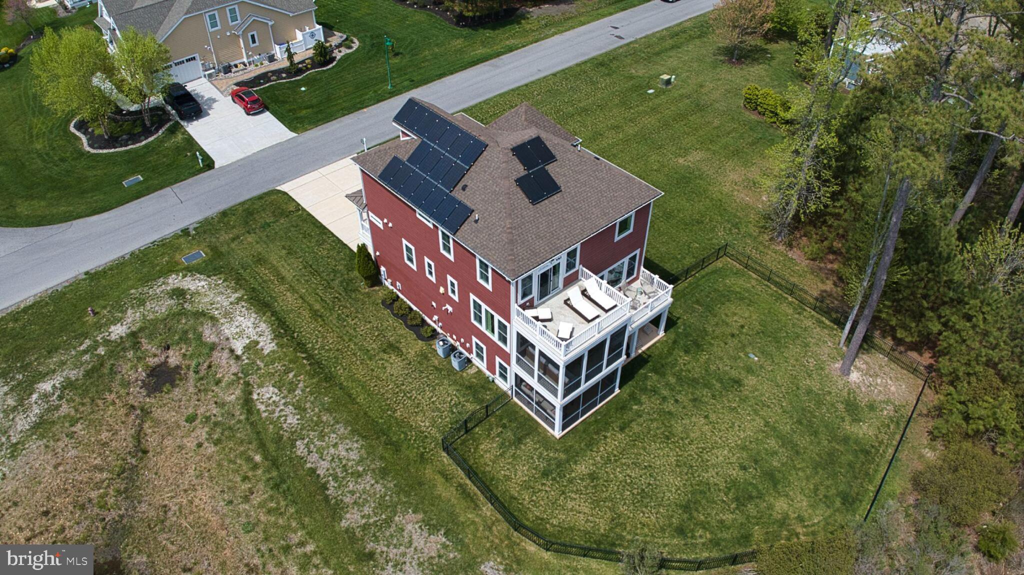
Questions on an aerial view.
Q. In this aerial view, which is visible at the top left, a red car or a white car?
red car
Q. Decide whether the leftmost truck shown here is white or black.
black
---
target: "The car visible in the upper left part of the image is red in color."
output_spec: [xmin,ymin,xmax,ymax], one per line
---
[230,83,263,110]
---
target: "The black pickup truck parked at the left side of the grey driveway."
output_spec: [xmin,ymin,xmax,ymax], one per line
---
[161,81,199,114]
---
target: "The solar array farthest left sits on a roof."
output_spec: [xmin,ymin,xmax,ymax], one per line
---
[378,99,487,233]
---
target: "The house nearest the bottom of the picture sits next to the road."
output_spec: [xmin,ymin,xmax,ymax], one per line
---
[346,96,673,438]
